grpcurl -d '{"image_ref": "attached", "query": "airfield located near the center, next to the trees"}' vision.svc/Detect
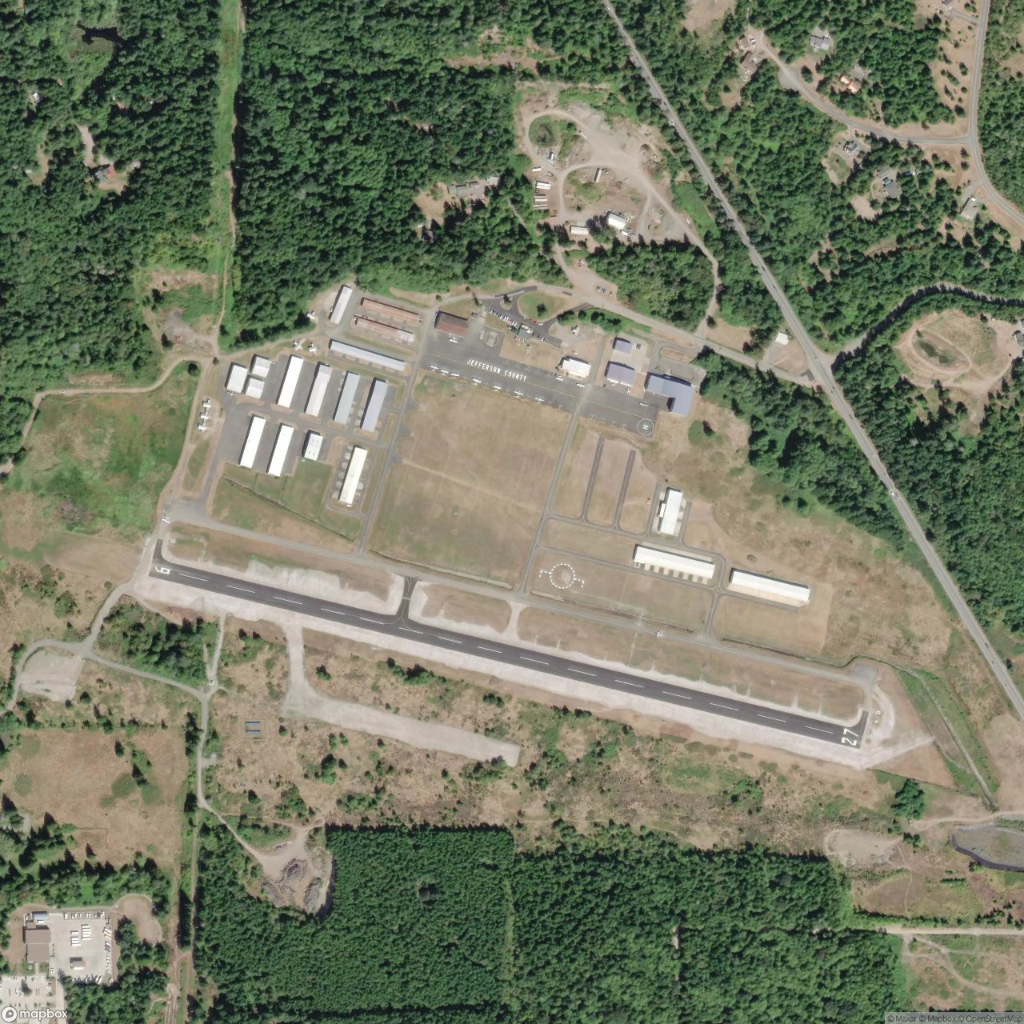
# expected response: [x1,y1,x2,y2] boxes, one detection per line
[149,239,878,749]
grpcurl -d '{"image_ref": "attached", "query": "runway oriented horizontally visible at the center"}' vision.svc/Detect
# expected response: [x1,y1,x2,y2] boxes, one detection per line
[149,459,868,749]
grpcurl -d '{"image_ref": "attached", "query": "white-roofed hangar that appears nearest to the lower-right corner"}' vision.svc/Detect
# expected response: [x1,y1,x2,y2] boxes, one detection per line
[731,570,811,601]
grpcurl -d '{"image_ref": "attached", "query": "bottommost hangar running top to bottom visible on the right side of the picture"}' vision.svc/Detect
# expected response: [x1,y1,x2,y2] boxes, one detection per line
[660,489,683,535]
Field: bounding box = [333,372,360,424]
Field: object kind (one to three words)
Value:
hangar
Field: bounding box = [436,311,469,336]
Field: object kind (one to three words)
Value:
hangar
